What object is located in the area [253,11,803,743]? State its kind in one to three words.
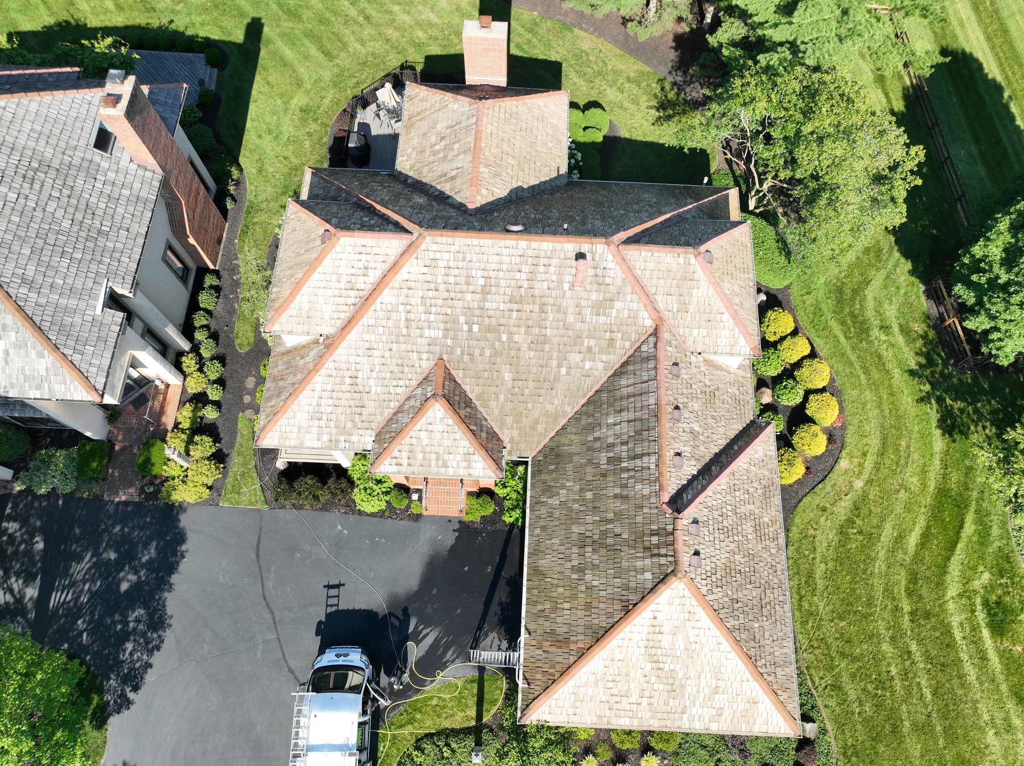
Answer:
house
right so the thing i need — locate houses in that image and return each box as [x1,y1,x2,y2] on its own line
[253,11,803,743]
[0,63,228,501]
